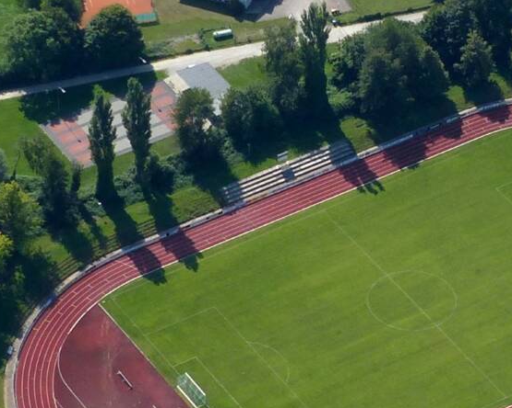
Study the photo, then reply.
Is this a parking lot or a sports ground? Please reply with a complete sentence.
The area seen from above is a sports ground.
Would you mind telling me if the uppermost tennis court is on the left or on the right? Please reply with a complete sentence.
The uppermost tennis court appears in the left half of the scene.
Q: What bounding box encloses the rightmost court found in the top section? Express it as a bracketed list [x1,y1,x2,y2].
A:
[131,85,184,133]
